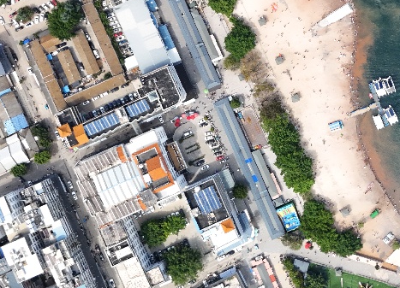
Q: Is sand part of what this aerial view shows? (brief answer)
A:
Yes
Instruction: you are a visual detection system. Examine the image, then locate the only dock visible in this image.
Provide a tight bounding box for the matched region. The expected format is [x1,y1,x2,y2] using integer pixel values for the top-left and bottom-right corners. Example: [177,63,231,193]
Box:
[349,83,389,126]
